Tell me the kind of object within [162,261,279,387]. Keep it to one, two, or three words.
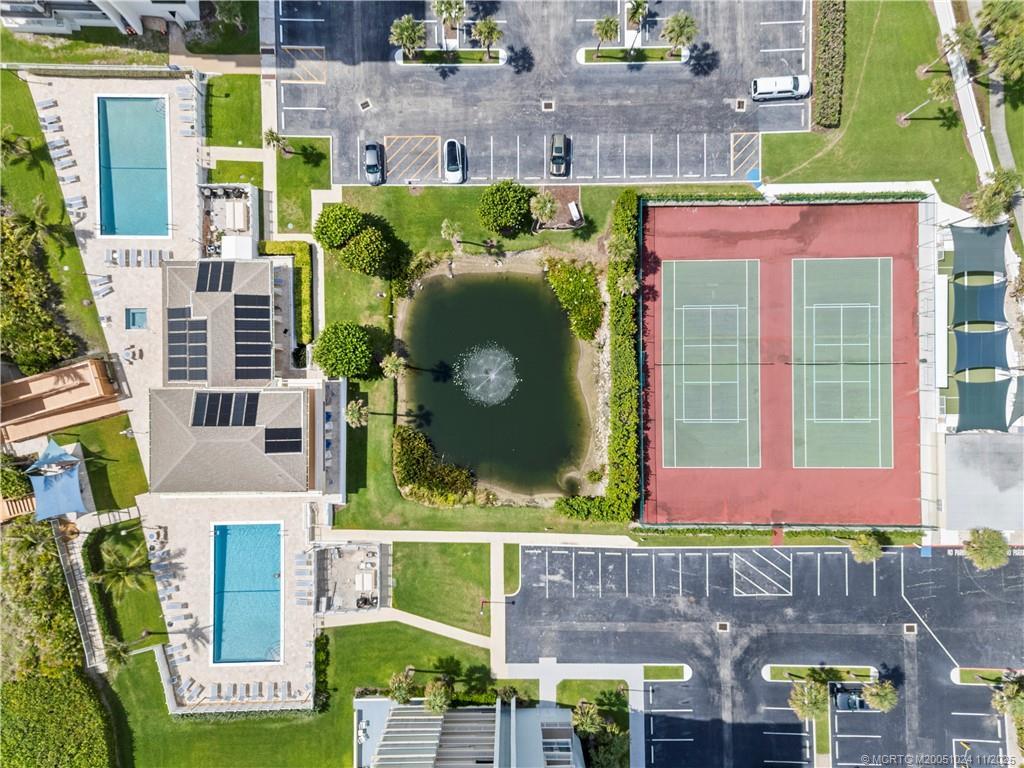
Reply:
building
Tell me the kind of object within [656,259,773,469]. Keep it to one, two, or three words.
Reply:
tennis court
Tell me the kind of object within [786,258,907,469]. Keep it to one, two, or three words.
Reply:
tennis court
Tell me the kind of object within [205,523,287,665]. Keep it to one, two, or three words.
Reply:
swimming pool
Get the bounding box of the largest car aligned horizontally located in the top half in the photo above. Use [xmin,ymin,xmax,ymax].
[751,75,808,102]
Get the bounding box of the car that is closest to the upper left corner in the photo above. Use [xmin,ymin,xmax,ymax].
[363,142,383,186]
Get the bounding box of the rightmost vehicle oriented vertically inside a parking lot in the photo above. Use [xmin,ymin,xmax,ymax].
[549,134,570,178]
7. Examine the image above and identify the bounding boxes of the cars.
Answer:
[751,75,808,102]
[836,690,880,713]
[363,142,383,186]
[443,140,464,184]
[549,134,570,178]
